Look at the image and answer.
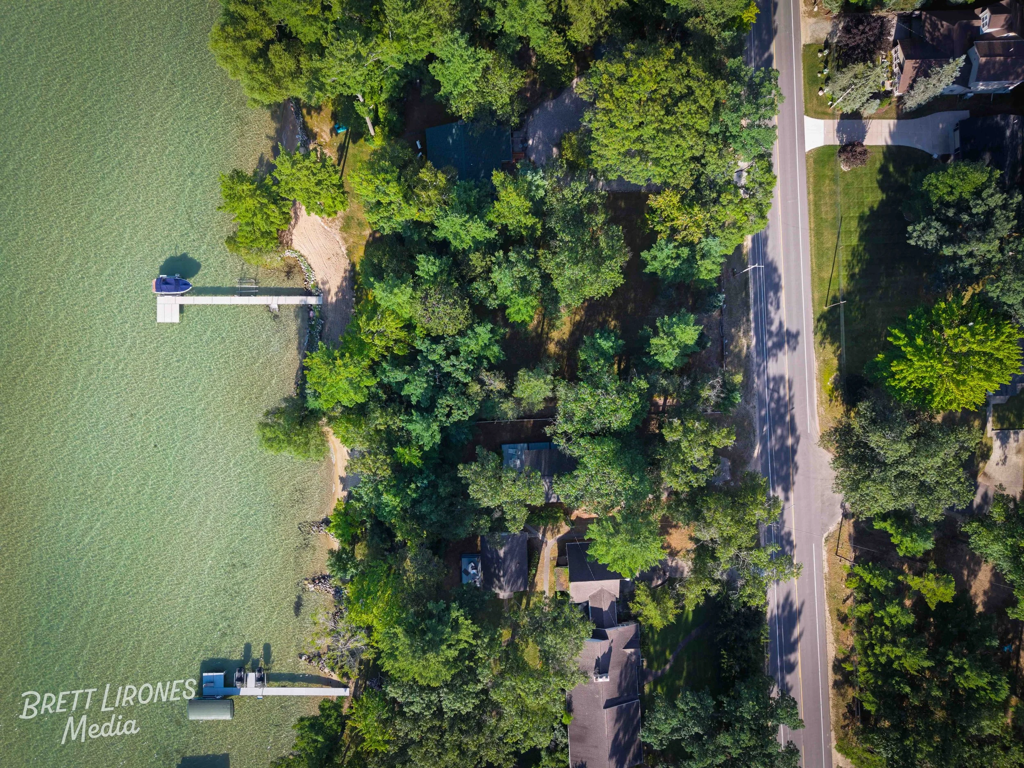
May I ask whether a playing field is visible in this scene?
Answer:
No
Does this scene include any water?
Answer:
Yes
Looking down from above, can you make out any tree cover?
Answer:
Yes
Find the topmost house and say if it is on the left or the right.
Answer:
right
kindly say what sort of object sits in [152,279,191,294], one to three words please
boat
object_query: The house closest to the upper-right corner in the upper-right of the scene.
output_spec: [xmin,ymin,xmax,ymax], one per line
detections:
[892,8,1024,96]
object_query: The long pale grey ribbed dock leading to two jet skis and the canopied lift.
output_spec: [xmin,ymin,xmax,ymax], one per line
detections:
[201,672,349,698]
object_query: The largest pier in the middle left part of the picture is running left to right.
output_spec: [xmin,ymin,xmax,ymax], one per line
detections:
[155,295,322,323]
